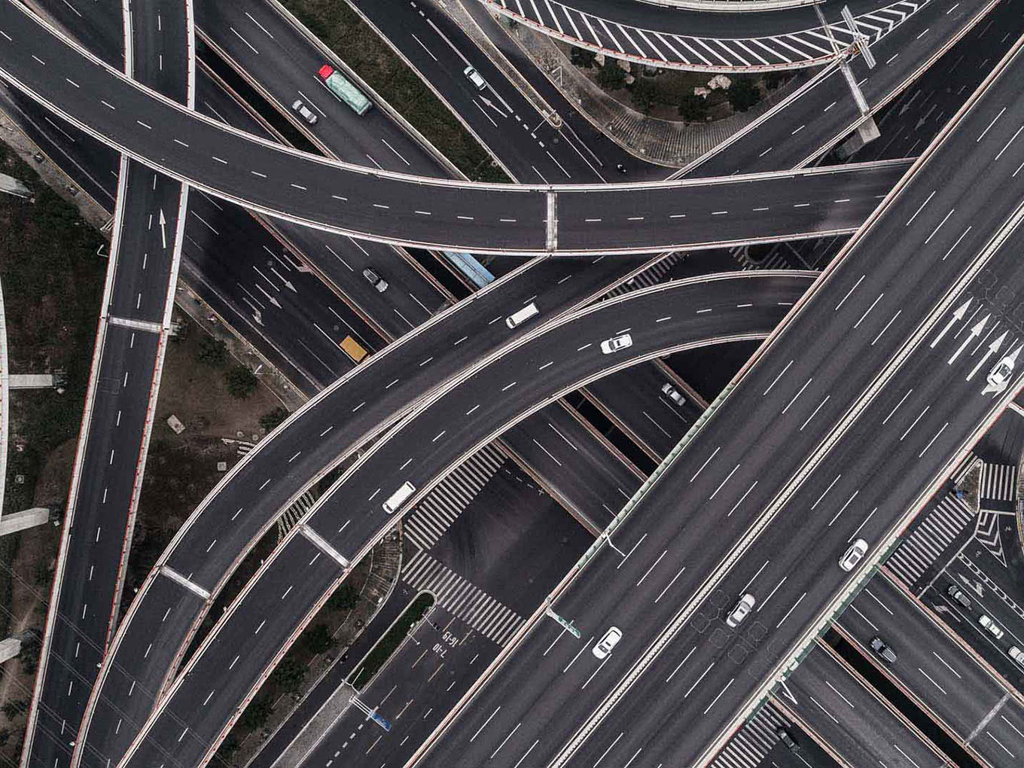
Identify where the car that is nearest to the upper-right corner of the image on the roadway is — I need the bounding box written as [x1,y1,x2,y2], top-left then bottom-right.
[984,356,1015,388]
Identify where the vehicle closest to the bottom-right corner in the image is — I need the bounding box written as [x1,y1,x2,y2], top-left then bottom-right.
[1004,644,1024,670]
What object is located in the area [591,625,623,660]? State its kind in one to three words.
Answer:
car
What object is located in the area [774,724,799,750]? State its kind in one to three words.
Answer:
car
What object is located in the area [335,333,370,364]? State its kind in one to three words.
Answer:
truck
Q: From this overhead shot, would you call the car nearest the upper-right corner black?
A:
No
